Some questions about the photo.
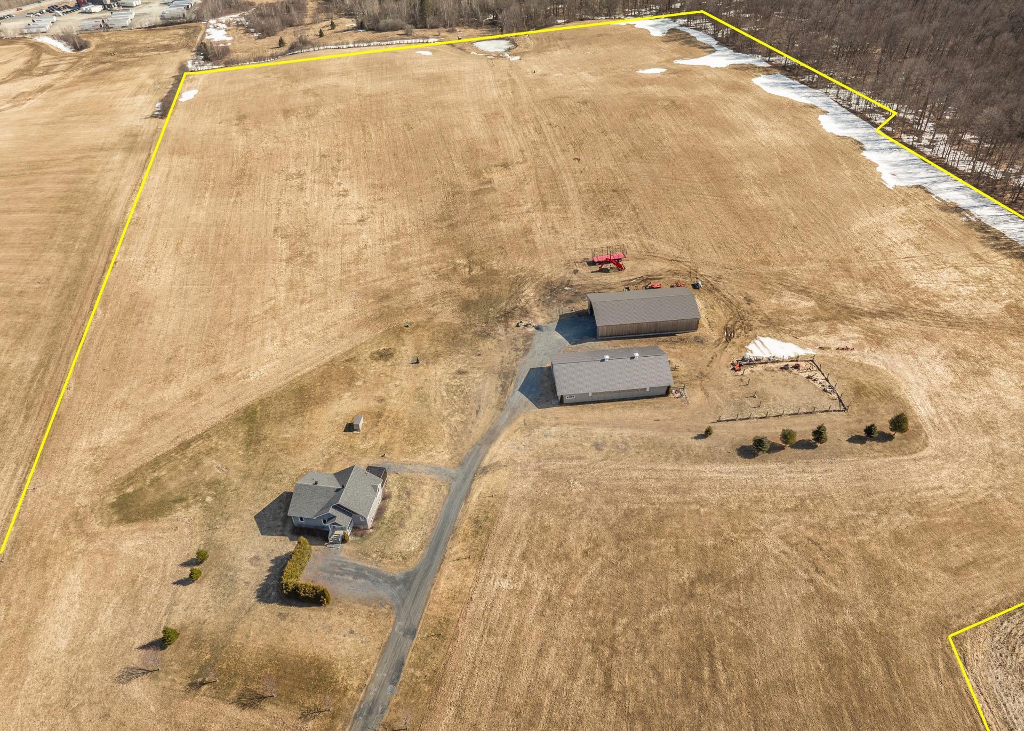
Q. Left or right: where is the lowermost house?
left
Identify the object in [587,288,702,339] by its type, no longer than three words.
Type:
barn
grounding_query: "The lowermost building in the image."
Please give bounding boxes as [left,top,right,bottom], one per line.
[287,466,388,553]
